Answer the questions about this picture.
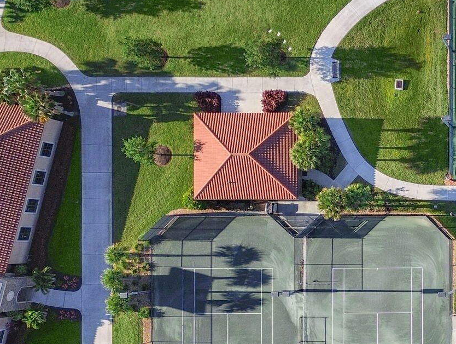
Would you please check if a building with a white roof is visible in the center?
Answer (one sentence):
No, in the center there is no building with a white roof.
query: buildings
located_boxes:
[194,112,302,200]
[0,103,62,344]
